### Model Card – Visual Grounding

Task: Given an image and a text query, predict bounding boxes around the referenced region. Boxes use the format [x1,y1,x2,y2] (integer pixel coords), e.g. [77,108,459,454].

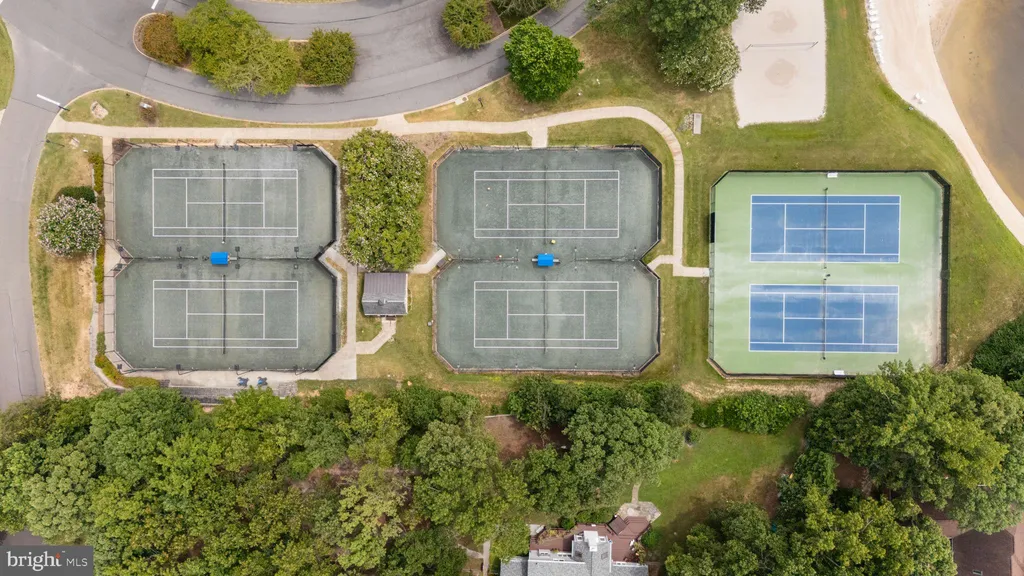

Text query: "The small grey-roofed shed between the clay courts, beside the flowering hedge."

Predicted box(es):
[362,273,409,320]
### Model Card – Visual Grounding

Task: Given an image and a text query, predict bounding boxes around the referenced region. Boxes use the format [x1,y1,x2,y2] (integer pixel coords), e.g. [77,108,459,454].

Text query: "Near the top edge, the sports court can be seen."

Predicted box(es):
[732,0,827,127]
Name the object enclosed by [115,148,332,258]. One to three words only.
tennis court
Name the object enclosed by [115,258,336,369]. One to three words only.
tennis court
